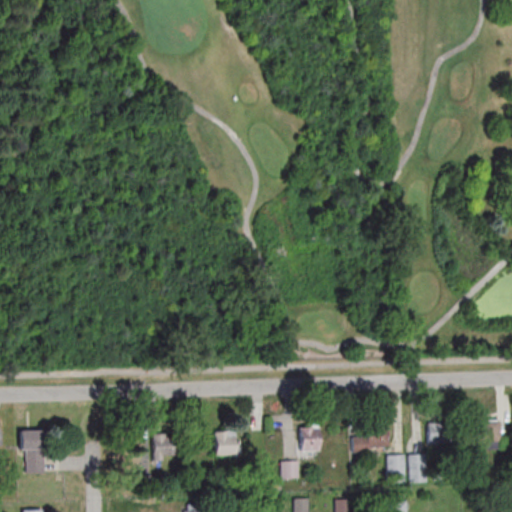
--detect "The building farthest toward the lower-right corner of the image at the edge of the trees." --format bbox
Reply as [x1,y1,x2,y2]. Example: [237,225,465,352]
[486,420,501,450]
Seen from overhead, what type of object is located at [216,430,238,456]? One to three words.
house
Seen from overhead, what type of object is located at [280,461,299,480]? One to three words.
building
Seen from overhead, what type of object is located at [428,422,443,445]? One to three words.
house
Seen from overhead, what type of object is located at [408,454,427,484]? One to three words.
building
